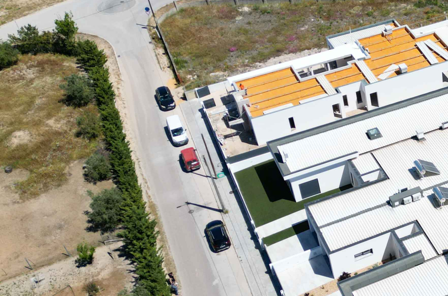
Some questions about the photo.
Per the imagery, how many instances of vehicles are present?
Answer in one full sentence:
In total, there are 4 vehicles in the scene.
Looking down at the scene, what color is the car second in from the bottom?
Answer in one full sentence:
The car second in from the bottom looks red in the image.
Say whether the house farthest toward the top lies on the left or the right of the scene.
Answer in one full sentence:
The house farthest toward the top is on the right side of the image.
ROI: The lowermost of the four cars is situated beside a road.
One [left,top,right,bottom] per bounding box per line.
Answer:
[201,220,234,258]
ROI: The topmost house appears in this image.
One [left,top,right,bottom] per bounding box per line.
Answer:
[228,19,448,146]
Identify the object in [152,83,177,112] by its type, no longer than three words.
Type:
car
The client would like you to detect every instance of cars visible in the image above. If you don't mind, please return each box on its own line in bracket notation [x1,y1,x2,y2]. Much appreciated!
[201,220,234,258]
[152,83,177,112]
[177,147,201,175]
[160,109,189,147]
